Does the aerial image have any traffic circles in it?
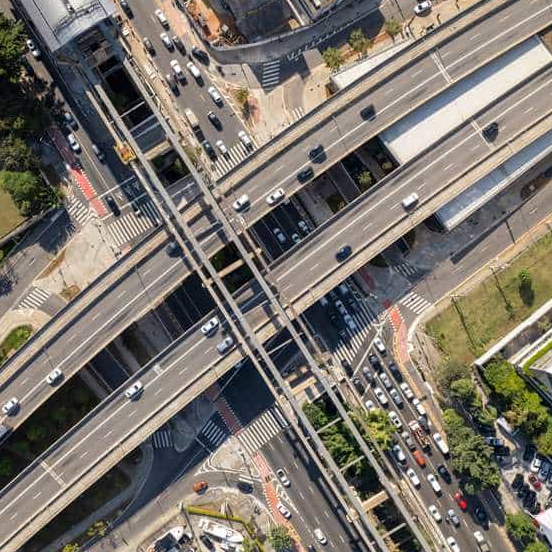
No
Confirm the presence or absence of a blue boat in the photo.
No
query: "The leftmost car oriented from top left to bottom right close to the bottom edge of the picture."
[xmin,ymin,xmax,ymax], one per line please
[200,533,214,551]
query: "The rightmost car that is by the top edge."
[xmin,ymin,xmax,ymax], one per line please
[412,0,432,13]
